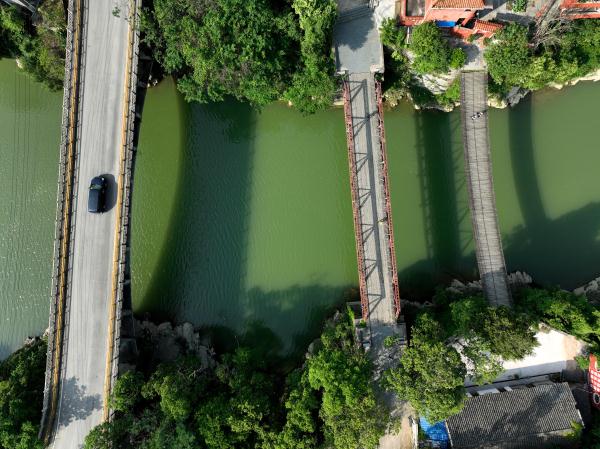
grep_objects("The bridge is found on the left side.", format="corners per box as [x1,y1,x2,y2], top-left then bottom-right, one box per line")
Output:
[37,0,159,449]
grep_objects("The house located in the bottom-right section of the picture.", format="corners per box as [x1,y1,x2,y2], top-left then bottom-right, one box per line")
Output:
[442,380,589,449]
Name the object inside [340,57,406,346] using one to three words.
bridge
